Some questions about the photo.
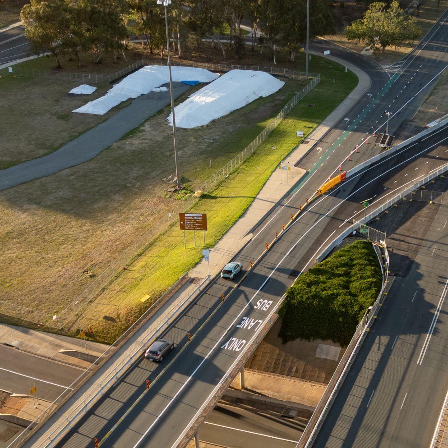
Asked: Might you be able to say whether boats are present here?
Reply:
No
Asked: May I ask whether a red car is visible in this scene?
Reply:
No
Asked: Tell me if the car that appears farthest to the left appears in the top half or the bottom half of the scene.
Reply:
bottom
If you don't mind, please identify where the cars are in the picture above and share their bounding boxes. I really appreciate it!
[222,262,245,279]
[143,337,176,363]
